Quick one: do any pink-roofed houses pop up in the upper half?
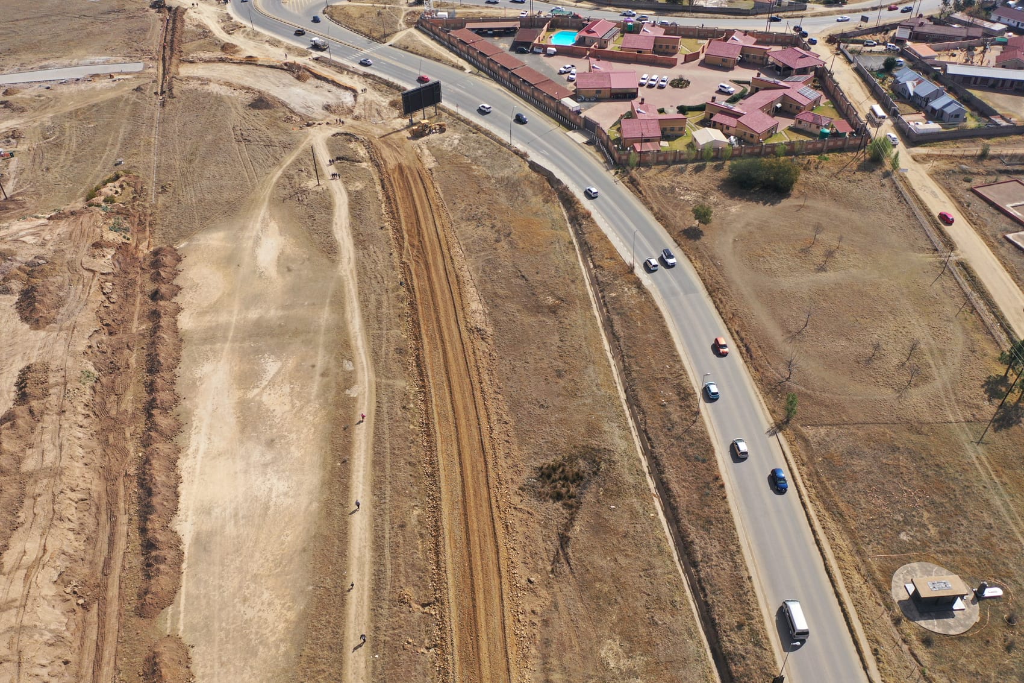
Yes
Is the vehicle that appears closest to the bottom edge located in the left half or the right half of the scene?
right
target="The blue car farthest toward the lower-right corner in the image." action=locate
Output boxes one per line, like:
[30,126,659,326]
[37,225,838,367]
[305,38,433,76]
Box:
[771,468,788,491]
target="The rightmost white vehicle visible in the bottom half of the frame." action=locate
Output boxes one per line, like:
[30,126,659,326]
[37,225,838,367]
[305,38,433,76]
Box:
[783,601,815,643]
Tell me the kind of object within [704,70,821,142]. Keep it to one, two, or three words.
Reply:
house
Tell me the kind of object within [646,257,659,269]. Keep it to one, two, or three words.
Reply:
vehicle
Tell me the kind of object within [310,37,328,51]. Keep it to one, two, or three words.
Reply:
vehicle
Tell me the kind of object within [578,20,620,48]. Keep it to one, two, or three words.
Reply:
building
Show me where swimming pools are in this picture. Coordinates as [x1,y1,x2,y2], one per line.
[547,30,582,47]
